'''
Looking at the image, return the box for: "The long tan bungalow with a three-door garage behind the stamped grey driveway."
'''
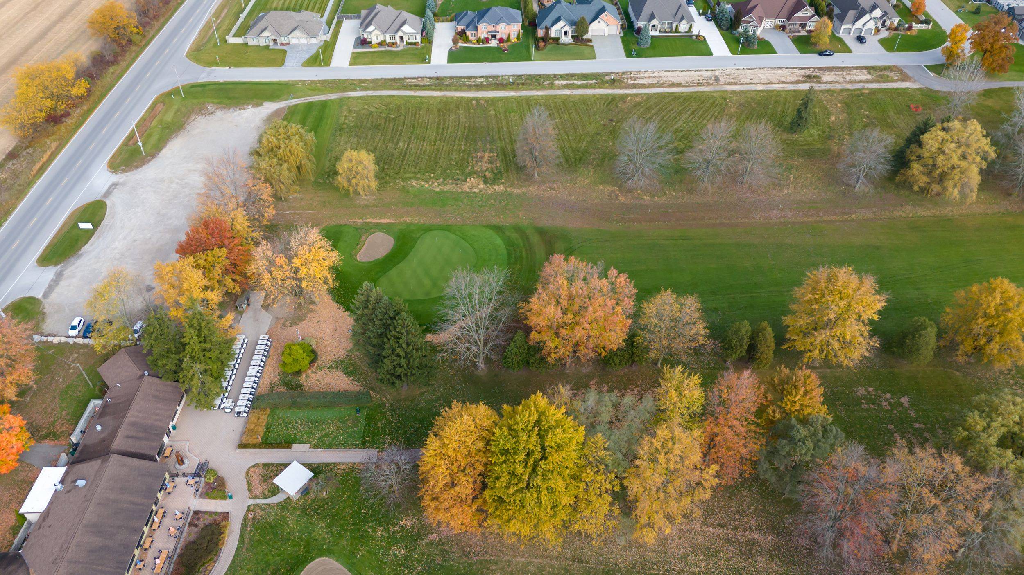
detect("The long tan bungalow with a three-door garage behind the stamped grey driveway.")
[243,9,327,46]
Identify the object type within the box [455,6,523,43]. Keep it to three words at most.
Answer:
house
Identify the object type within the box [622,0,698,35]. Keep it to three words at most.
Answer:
house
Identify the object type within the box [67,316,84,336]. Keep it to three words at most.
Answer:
car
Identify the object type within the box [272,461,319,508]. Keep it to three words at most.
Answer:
building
